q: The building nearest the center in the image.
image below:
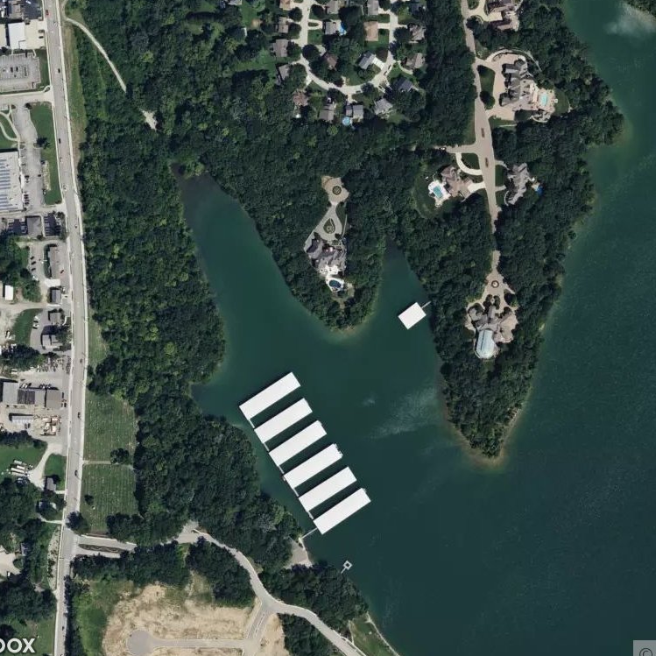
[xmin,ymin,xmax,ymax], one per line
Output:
[309,241,342,270]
